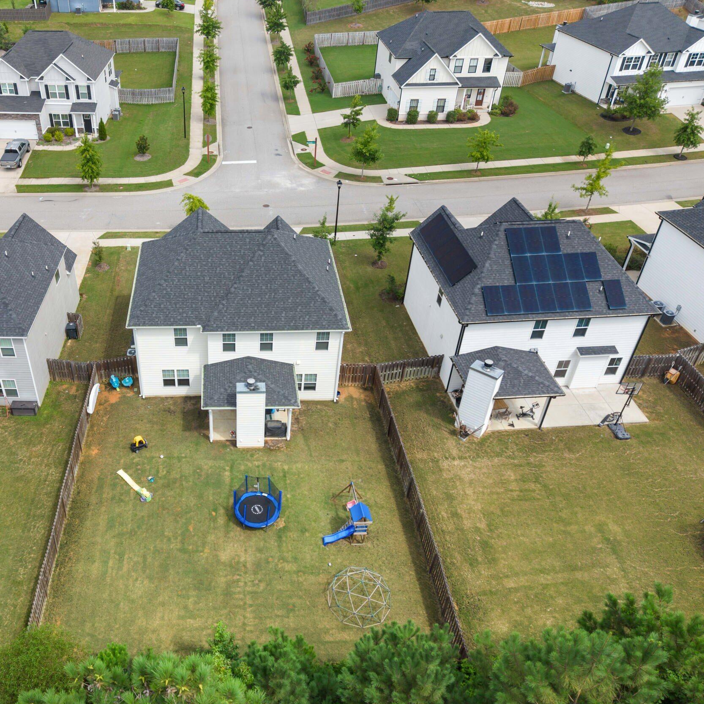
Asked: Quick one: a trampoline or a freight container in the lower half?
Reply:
trampoline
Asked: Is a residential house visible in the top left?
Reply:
Yes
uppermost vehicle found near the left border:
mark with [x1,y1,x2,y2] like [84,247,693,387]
[2,143,28,165]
